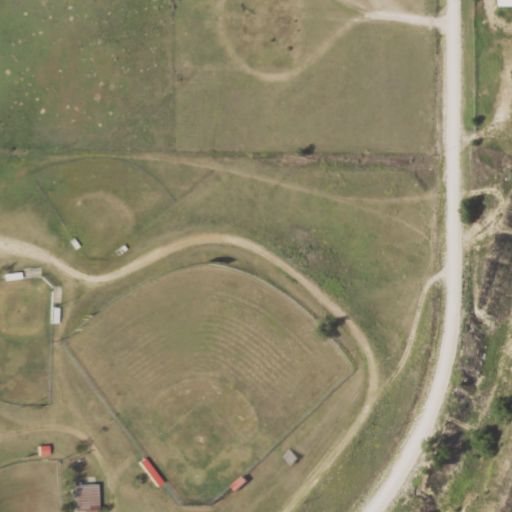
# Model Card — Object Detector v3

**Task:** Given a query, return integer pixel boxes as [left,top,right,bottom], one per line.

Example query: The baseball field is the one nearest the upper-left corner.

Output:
[34,158,176,259]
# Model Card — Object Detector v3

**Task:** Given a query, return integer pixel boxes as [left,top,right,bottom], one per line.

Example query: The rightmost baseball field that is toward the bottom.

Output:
[62,264,355,506]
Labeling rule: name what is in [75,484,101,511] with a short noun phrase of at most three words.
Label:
building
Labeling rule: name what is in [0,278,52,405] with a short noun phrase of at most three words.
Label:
baseball field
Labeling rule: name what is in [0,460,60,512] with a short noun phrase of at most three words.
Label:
baseball field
